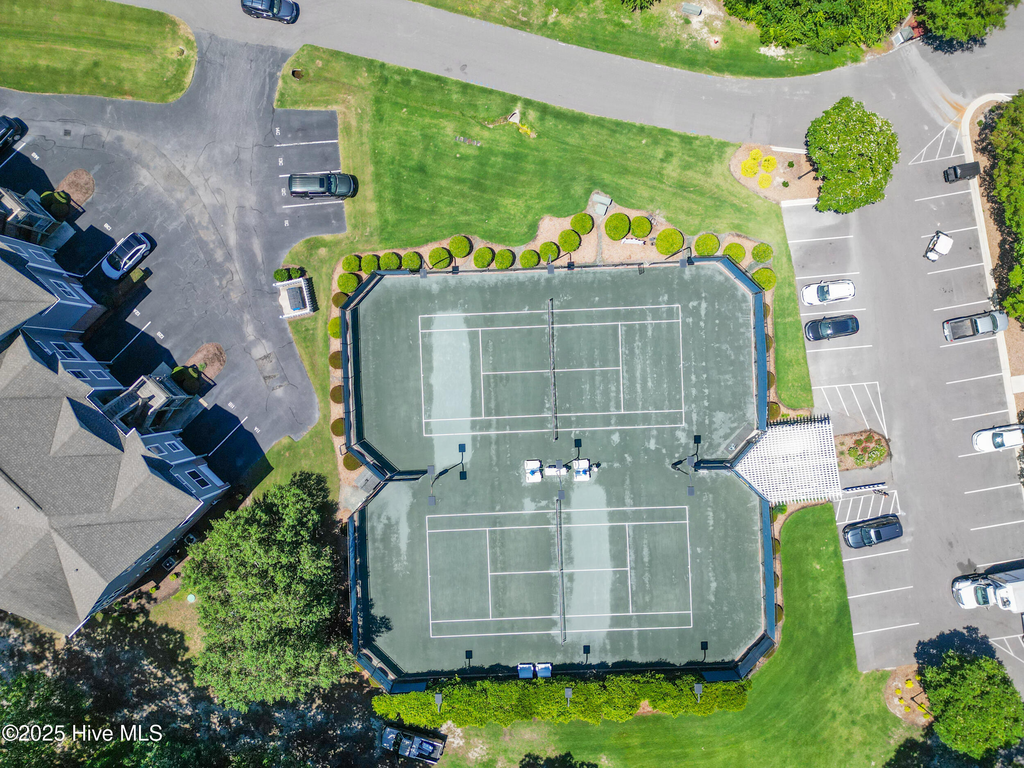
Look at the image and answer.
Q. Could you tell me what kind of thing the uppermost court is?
tennis court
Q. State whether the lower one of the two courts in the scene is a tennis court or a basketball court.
tennis court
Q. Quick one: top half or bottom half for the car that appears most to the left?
top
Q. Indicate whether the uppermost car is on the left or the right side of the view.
left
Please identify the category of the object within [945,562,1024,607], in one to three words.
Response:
camper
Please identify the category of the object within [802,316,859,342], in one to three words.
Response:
car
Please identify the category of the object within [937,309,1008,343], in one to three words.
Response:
truck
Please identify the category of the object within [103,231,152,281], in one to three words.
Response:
car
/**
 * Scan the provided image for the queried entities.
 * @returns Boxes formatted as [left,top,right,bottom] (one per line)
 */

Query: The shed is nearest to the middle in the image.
[354,467,381,493]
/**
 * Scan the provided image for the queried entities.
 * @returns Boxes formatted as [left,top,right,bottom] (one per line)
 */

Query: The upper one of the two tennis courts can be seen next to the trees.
[347,261,759,477]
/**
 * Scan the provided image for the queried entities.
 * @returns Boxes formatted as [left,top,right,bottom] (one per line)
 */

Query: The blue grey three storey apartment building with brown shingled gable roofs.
[0,175,227,638]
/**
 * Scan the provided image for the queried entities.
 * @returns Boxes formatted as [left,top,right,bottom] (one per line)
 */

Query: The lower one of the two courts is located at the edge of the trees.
[353,464,766,681]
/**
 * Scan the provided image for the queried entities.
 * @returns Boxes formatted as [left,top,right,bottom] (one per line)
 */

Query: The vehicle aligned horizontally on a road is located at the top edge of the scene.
[238,0,296,25]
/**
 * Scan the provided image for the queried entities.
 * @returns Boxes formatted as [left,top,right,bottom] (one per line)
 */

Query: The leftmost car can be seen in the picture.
[0,114,29,165]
